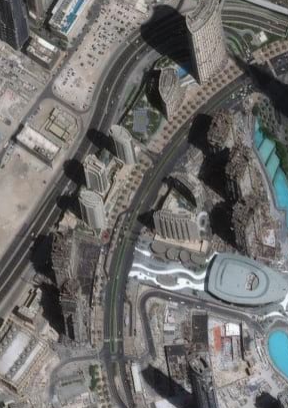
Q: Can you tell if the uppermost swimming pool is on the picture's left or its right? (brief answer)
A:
left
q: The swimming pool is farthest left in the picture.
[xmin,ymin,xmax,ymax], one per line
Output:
[60,0,84,32]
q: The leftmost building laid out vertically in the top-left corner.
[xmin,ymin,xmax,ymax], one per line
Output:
[0,0,34,55]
